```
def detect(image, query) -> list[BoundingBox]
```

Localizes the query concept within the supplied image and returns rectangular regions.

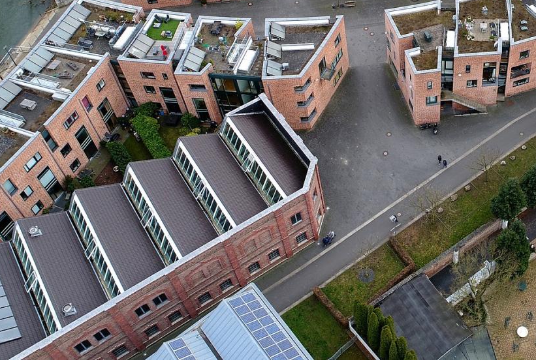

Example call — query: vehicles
[418,120,432,127]
[433,120,439,134]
